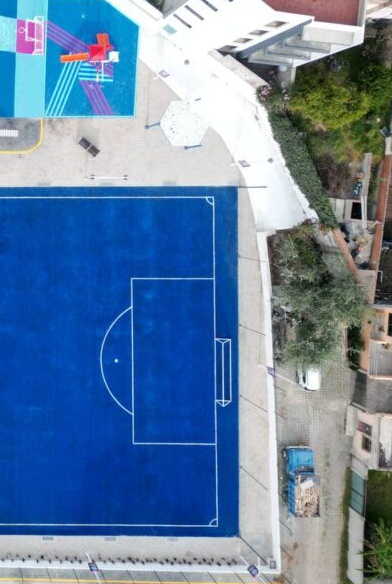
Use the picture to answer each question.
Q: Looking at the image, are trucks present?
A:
Yes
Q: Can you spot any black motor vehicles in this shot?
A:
No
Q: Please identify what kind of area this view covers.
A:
sports ground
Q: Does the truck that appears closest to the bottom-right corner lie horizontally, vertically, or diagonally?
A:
vertically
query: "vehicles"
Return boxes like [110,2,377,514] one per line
[284,443,320,523]
[296,358,319,394]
